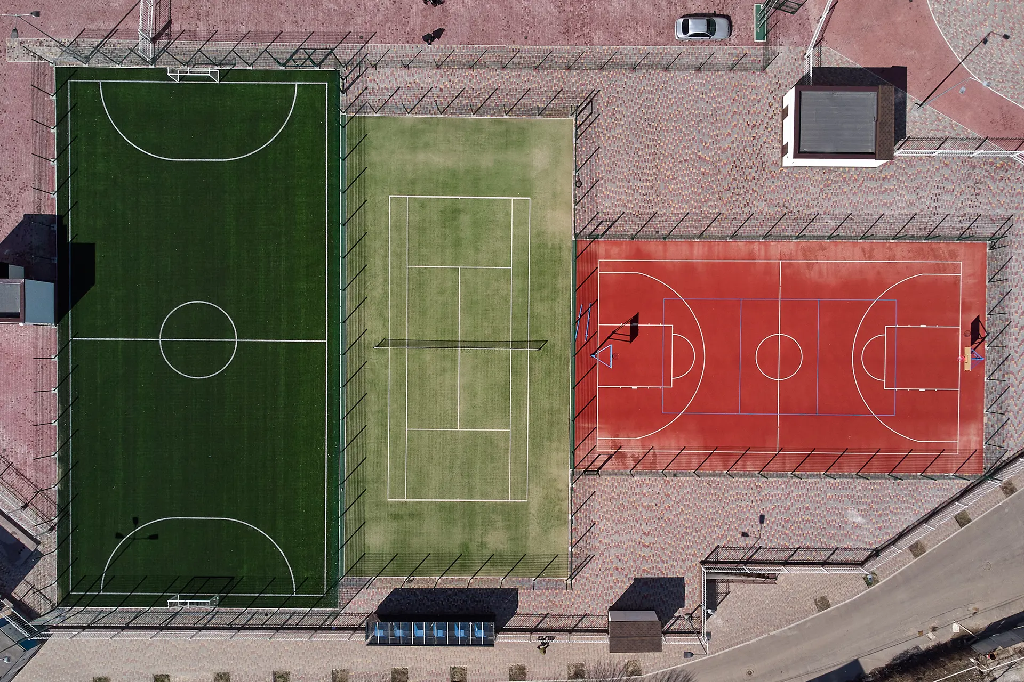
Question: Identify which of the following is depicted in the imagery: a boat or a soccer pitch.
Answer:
soccer pitch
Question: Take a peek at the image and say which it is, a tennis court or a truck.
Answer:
tennis court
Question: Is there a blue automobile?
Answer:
No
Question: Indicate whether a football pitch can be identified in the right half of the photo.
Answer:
No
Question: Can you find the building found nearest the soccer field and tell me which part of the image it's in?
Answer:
left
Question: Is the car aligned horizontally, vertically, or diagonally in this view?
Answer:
horizontally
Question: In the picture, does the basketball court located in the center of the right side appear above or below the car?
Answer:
below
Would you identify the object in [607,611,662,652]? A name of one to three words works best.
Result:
shed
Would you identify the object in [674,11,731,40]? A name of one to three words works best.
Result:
car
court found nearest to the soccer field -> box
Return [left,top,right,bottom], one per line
[345,116,573,577]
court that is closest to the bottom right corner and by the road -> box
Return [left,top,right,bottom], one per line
[573,240,987,474]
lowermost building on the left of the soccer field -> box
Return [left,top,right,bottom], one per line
[0,278,56,326]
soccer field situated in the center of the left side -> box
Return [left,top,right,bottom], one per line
[56,67,339,608]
